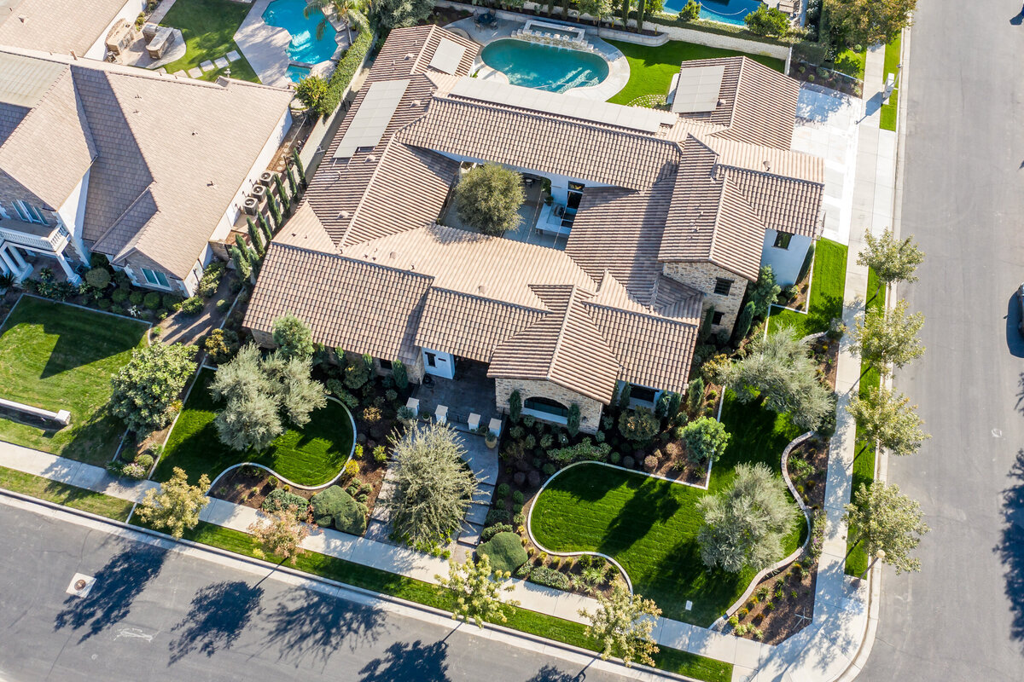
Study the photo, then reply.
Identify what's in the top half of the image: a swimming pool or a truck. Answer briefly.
swimming pool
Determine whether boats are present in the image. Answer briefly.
No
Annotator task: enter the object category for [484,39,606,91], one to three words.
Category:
swimming pool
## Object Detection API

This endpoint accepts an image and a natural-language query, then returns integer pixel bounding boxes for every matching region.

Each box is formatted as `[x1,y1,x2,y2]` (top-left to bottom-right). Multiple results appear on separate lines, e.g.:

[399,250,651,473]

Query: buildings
[0,0,296,300]
[241,22,826,434]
